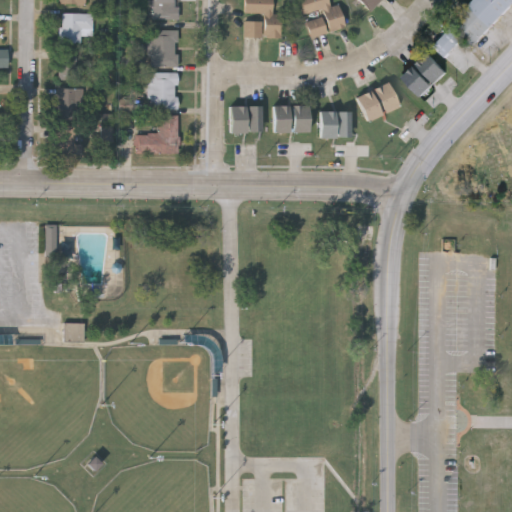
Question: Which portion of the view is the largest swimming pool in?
left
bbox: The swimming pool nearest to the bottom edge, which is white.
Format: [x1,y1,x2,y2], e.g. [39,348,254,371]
[58,226,125,300]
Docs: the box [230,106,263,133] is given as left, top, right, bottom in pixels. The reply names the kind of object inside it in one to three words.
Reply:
house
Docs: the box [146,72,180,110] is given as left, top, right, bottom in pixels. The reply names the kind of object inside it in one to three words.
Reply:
house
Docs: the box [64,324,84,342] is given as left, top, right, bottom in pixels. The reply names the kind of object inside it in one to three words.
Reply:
building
